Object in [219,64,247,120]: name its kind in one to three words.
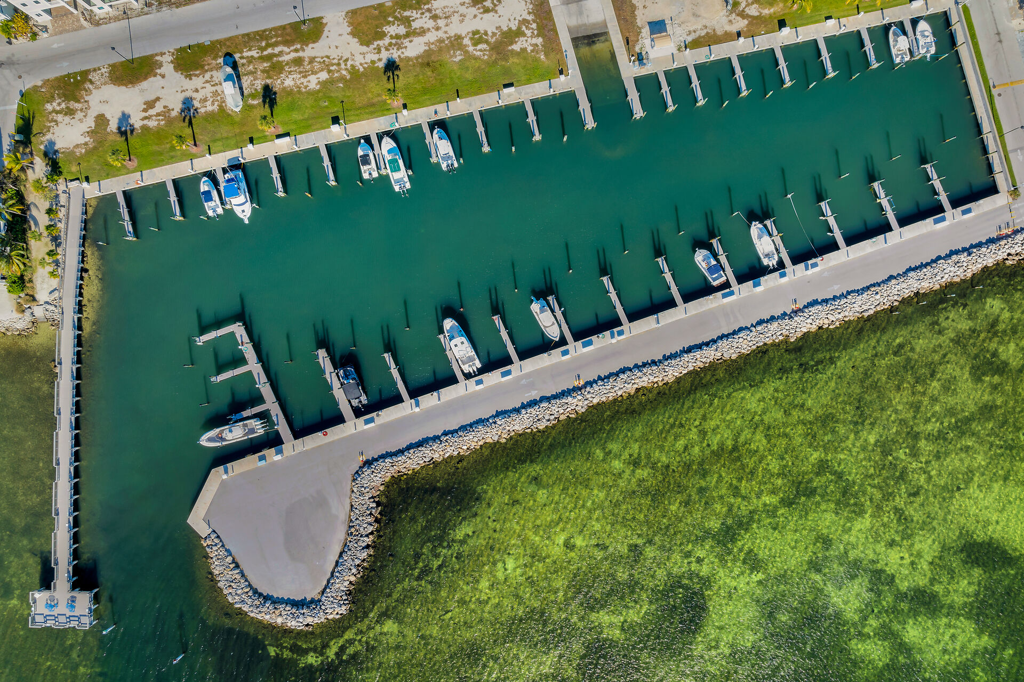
boat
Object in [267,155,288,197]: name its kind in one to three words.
pier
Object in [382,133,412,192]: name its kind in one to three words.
boat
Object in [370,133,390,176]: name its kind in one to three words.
pier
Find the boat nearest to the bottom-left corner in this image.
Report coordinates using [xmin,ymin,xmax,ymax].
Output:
[196,420,266,447]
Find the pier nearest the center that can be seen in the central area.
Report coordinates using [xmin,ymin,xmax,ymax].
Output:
[492,313,519,363]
